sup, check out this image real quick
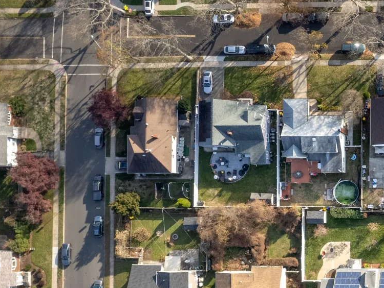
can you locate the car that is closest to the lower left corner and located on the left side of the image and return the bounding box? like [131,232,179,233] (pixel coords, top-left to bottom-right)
[61,244,73,265]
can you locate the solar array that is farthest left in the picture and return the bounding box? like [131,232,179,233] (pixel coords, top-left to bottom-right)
[199,100,211,142]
